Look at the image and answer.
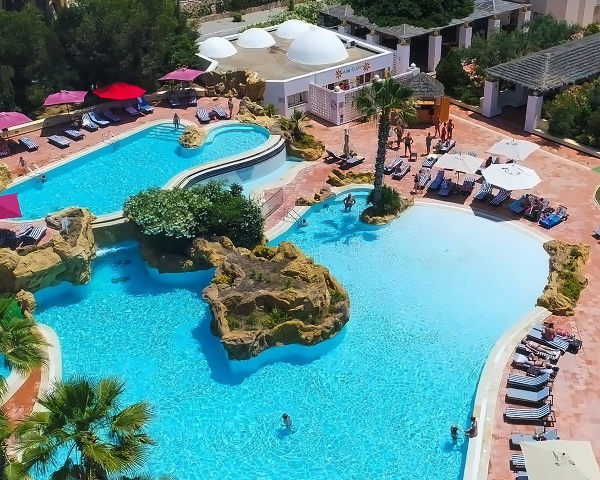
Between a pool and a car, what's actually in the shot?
pool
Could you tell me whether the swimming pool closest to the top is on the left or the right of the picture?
left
